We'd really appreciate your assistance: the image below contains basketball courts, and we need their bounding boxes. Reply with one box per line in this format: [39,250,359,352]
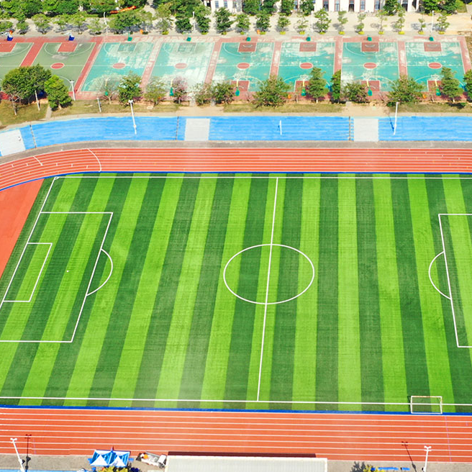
[400,35,472,99]
[73,36,161,100]
[338,35,407,99]
[7,36,101,100]
[140,36,218,100]
[0,37,42,100]
[272,35,338,99]
[204,36,278,99]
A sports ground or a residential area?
sports ground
